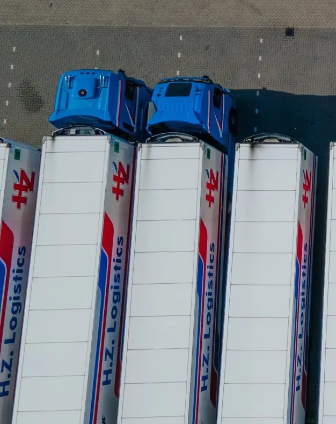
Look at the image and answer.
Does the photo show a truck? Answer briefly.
Yes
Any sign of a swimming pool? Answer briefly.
No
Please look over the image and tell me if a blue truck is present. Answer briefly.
Yes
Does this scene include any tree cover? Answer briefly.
No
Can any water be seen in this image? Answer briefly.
No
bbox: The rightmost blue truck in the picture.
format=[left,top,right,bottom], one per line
[146,75,235,219]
